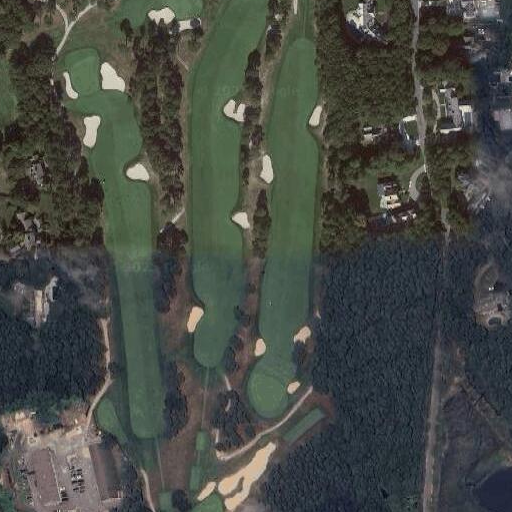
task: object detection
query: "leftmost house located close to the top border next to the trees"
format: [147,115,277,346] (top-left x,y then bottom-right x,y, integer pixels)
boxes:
[358,0,384,39]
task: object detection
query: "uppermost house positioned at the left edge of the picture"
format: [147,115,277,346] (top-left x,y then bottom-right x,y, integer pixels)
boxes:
[25,158,48,185]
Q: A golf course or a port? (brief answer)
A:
golf course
